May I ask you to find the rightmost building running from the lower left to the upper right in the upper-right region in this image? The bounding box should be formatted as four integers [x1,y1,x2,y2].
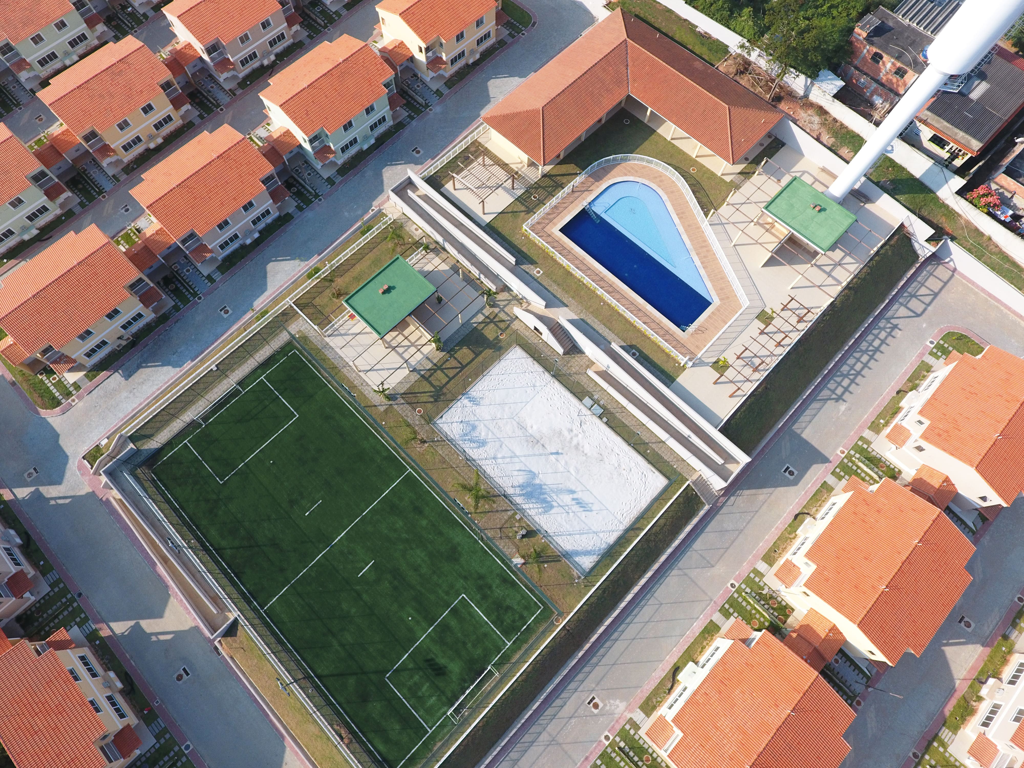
[902,45,1024,172]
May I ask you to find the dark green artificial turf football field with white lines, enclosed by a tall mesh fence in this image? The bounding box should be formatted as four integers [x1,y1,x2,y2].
[135,340,557,768]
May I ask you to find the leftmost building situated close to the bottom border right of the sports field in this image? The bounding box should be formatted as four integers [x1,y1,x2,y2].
[633,608,860,768]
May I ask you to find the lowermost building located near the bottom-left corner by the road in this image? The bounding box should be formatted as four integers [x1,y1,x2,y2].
[0,621,165,768]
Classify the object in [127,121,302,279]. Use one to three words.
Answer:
house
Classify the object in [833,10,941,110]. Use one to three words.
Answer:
house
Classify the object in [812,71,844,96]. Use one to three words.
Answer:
shed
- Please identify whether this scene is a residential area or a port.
residential area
